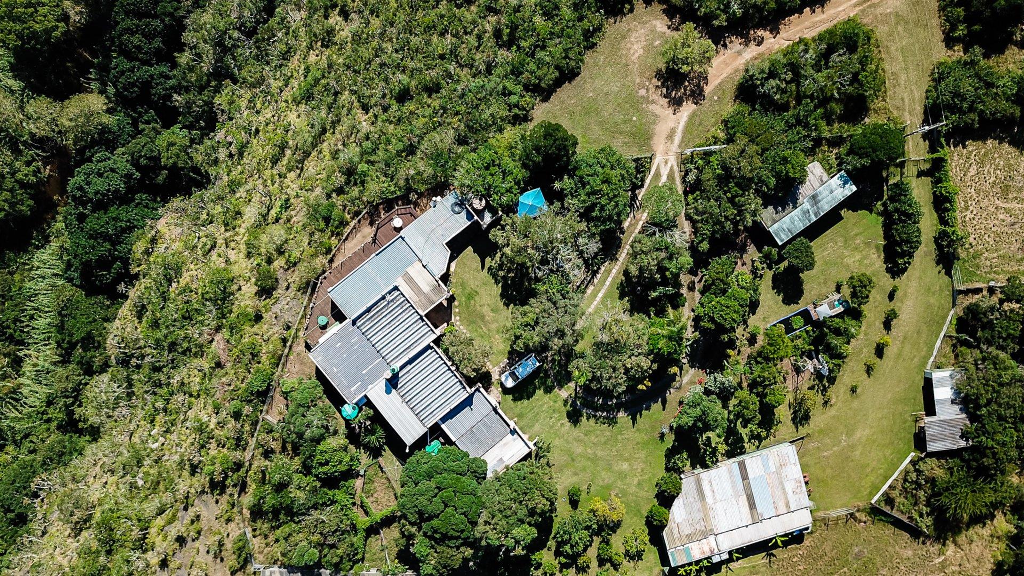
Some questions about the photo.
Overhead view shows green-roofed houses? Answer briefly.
No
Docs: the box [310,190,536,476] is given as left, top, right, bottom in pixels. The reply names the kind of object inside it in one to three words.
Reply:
house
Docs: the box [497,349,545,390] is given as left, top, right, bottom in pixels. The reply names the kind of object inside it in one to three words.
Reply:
truck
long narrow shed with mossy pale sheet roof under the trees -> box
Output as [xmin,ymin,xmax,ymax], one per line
[756,162,857,246]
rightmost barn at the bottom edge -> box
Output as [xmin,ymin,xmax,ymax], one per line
[662,442,813,568]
